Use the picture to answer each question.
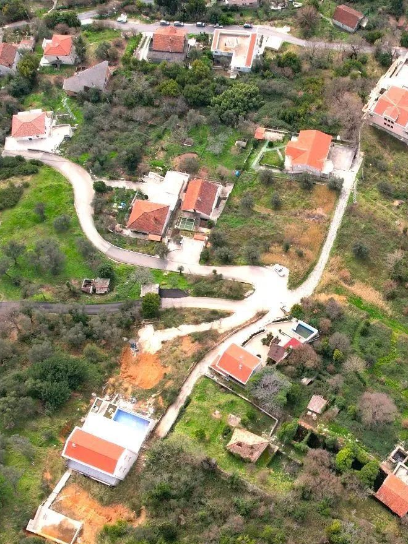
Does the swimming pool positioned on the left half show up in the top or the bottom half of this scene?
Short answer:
bottom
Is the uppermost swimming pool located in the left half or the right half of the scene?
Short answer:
right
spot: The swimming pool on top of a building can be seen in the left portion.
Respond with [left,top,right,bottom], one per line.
[112,407,152,435]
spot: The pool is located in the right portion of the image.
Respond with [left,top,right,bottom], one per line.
[292,320,318,341]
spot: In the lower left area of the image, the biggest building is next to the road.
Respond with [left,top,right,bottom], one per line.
[62,397,159,479]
